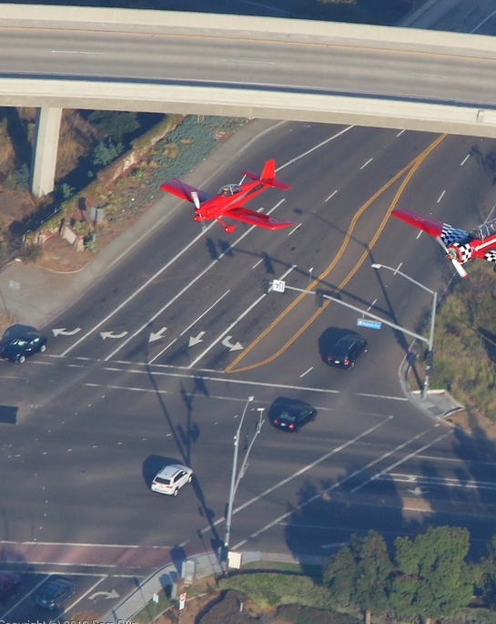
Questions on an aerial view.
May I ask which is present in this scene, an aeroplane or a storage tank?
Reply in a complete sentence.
The image shows an aeroplane.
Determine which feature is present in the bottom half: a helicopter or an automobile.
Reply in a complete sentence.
What appears in the bottom half is an automobile.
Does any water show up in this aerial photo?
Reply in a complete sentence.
No, the scene doesn't show any water.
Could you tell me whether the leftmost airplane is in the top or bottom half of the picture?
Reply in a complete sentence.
The top half of the photo is where the leftmost airplane is.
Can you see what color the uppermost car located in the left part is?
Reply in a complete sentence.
The uppermost car located in the left part looks blue in the image.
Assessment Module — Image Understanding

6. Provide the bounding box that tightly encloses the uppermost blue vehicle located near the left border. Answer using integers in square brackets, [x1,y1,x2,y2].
[0,325,47,359]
